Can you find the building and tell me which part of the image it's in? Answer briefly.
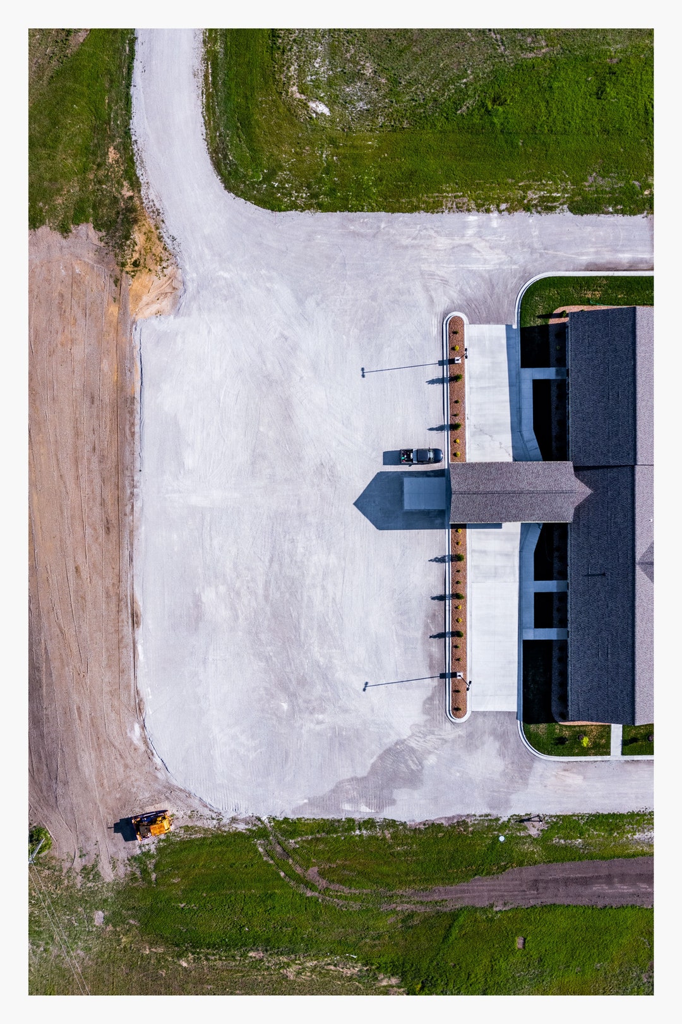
right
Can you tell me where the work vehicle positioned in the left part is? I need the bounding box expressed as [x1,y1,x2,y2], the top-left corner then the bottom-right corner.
[127,809,175,841]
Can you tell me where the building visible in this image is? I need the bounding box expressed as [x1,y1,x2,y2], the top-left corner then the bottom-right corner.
[449,306,682,726]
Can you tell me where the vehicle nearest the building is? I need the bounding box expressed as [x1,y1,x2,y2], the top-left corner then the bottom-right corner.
[400,447,443,465]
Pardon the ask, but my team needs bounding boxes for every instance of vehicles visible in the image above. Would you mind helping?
[127,809,175,841]
[400,447,443,465]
